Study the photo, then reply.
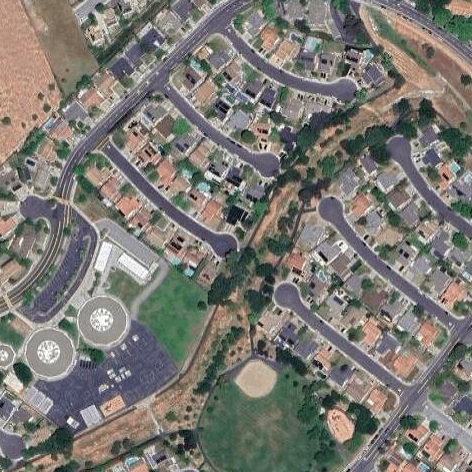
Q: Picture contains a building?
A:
Yes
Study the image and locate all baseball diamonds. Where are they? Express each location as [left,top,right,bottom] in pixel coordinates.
[199,355,329,472]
